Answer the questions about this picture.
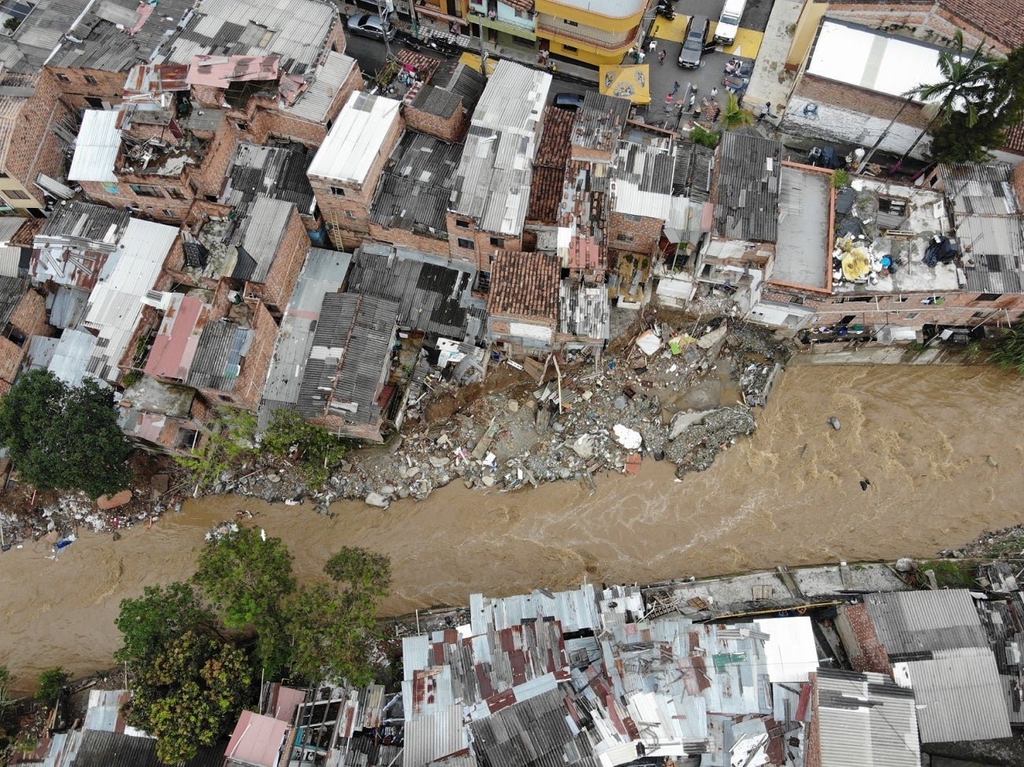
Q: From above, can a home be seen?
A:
Yes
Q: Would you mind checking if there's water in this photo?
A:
Yes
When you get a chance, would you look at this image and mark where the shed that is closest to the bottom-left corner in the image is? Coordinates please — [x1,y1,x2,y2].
[8,732,84,767]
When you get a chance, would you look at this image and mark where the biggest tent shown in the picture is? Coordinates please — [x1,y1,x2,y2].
[596,64,650,121]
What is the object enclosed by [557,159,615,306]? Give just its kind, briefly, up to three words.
house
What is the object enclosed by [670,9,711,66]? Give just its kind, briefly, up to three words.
car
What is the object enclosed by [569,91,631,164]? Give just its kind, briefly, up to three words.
house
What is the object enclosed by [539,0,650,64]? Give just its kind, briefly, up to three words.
building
